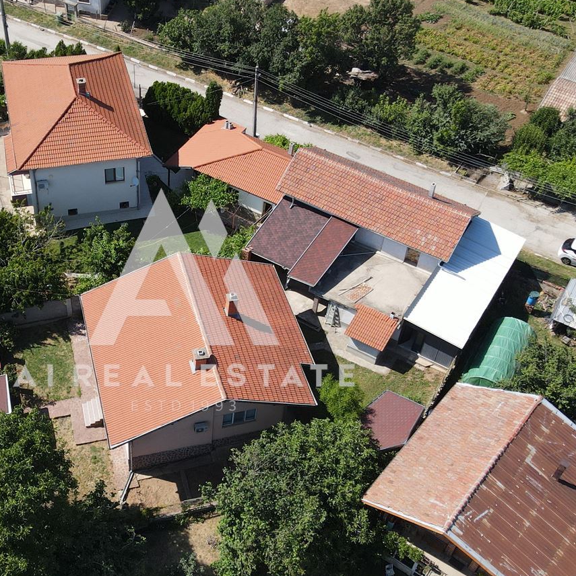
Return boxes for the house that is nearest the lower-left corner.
[80,251,317,494]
